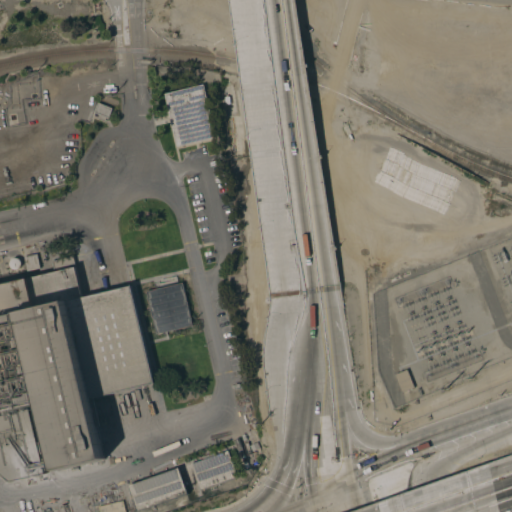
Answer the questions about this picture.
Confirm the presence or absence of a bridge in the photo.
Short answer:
Yes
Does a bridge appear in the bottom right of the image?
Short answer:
Yes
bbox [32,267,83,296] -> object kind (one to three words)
building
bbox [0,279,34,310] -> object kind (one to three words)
building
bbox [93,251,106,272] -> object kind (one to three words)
vehicle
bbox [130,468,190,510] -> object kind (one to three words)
shed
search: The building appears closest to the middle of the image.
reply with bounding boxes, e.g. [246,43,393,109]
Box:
[148,284,193,332]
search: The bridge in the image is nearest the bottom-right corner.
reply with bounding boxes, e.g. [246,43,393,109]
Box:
[348,454,512,512]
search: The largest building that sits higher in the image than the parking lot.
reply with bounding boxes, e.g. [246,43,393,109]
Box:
[165,85,214,148]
